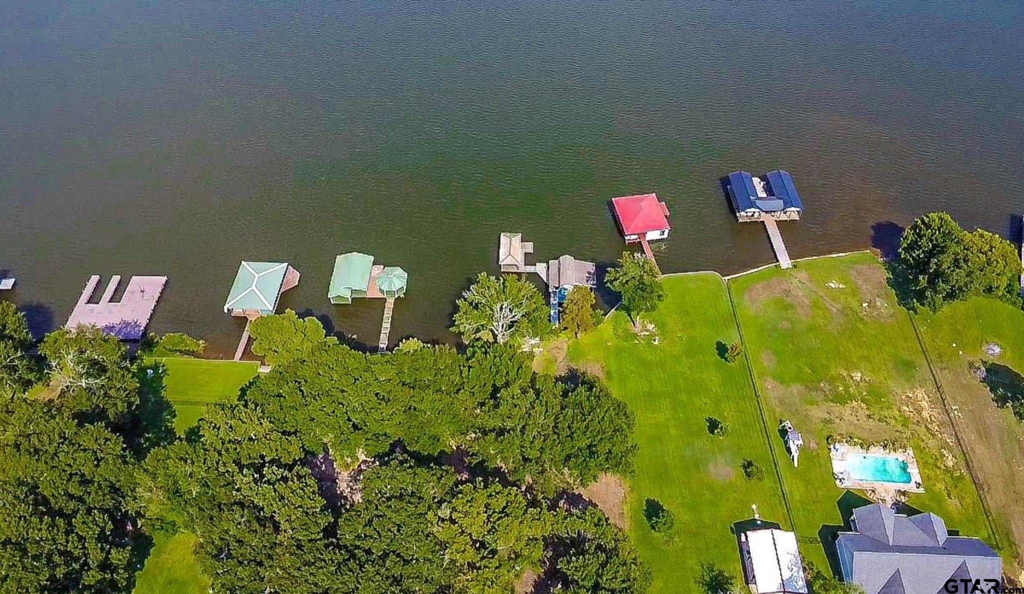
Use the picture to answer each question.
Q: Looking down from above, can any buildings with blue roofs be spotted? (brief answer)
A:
Yes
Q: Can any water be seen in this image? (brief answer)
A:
Yes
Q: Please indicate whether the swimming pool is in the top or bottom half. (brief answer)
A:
bottom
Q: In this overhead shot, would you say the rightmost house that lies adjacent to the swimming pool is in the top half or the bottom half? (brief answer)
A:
bottom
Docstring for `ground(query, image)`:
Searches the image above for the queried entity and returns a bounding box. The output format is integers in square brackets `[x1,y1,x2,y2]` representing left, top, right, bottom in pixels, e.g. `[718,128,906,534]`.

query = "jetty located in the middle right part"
[763,218,791,268]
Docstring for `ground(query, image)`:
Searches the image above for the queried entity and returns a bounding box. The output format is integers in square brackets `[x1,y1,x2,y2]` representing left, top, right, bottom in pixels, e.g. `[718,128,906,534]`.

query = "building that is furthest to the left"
[225,260,288,321]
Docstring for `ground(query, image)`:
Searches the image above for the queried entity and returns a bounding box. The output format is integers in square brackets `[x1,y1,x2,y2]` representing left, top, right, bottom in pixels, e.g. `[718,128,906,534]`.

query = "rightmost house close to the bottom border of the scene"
[835,503,1008,594]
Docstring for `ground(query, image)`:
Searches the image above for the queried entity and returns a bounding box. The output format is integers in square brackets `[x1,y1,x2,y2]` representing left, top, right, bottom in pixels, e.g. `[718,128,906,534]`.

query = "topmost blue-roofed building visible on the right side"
[723,170,803,226]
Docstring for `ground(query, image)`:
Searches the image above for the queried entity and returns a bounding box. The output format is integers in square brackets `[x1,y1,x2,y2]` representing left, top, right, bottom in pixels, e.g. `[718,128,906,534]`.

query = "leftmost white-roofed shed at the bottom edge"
[732,529,806,594]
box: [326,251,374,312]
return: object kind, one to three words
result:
building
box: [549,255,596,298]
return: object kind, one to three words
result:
building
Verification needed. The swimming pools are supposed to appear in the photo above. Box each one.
[830,444,924,492]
